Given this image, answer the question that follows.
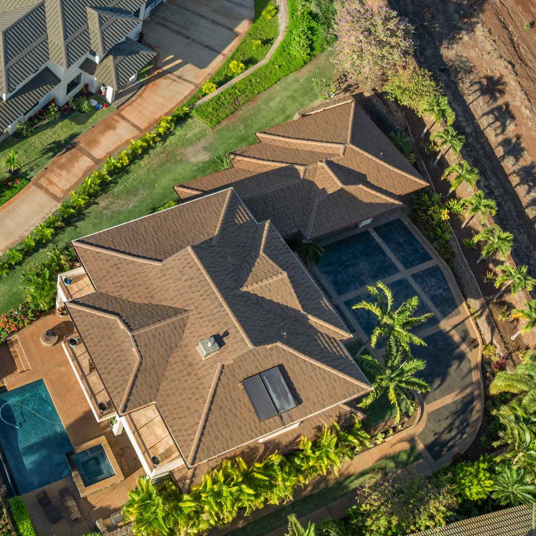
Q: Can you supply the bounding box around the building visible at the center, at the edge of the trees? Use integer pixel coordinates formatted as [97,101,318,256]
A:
[56,98,431,495]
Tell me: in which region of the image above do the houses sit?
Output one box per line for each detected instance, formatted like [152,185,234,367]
[0,0,166,136]
[56,98,431,495]
[405,501,536,536]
